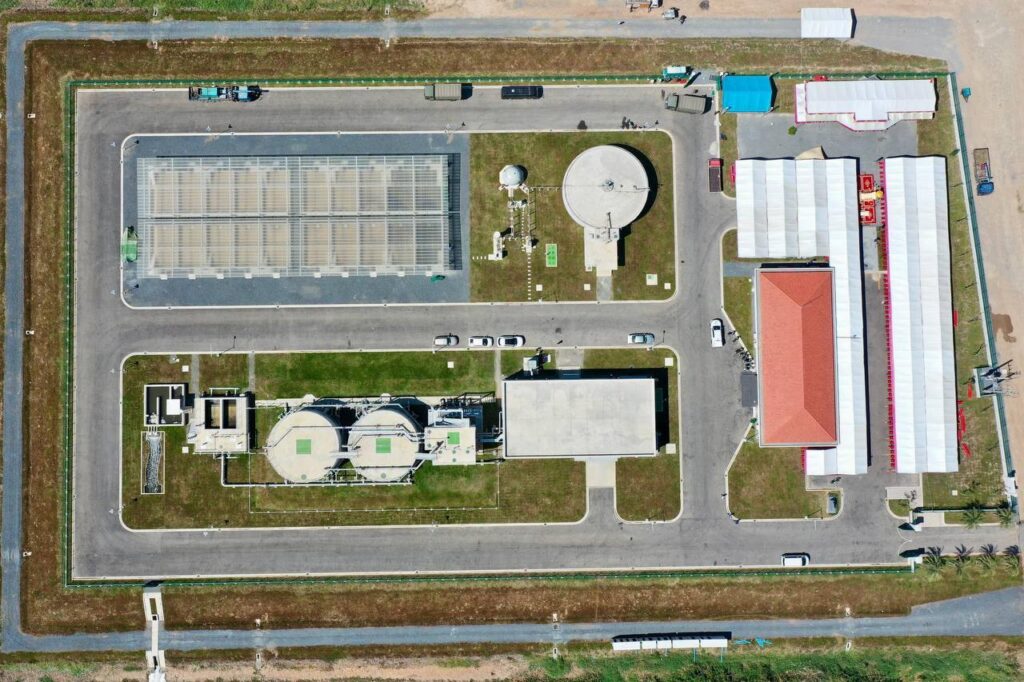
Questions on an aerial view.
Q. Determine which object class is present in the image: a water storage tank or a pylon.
water storage tank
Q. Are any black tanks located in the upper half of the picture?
No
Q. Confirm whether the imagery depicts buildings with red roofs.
Yes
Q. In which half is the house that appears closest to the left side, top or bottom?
top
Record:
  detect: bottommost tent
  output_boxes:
[799,447,837,476]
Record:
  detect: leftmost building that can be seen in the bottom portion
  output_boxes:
[425,392,503,465]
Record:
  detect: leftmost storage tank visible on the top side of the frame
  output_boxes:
[499,165,531,199]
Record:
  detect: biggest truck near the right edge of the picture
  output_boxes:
[972,149,993,193]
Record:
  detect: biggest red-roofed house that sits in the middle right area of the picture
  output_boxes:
[737,266,840,448]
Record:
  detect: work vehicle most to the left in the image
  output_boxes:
[122,227,139,260]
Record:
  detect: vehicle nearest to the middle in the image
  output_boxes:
[498,336,524,348]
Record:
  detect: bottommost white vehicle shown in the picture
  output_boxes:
[779,554,808,567]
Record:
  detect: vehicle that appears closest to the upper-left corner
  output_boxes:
[187,84,229,101]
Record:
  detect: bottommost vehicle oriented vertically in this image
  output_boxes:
[709,319,722,347]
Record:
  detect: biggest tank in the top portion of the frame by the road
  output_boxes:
[562,144,651,277]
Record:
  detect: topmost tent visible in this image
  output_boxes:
[795,8,852,45]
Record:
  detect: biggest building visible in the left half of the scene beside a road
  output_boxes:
[136,154,449,279]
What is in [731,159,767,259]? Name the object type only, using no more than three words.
tent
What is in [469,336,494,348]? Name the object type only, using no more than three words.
vehicle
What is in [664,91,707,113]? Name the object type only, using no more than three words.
truck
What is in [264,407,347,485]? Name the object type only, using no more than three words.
storage tank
